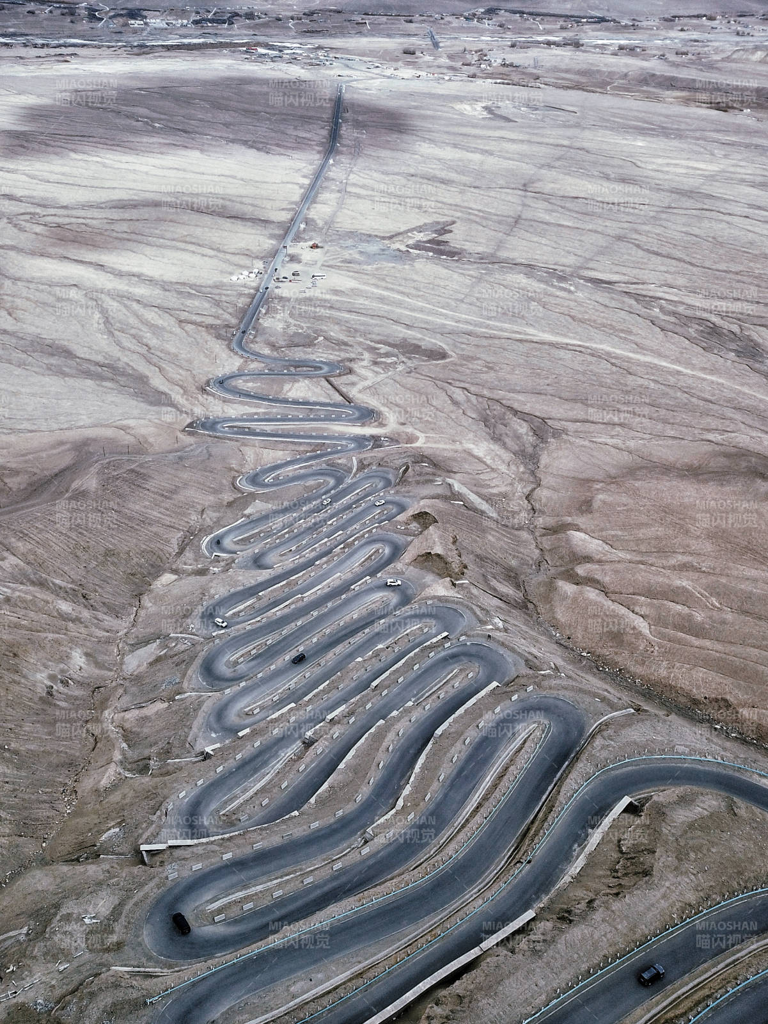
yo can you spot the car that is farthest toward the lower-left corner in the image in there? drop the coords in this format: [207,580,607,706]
[174,910,189,936]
